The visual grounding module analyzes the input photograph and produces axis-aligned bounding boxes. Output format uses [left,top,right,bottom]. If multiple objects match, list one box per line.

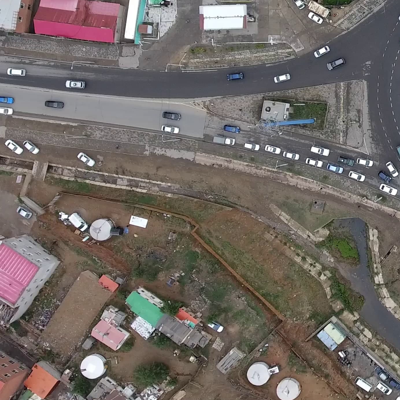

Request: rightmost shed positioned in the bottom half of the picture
[318,322,349,351]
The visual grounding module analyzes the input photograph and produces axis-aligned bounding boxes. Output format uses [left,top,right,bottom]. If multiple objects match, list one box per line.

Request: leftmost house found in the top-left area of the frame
[0,0,36,33]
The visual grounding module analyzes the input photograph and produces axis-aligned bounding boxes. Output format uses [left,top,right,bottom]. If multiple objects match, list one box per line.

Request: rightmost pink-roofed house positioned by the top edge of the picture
[35,0,126,42]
